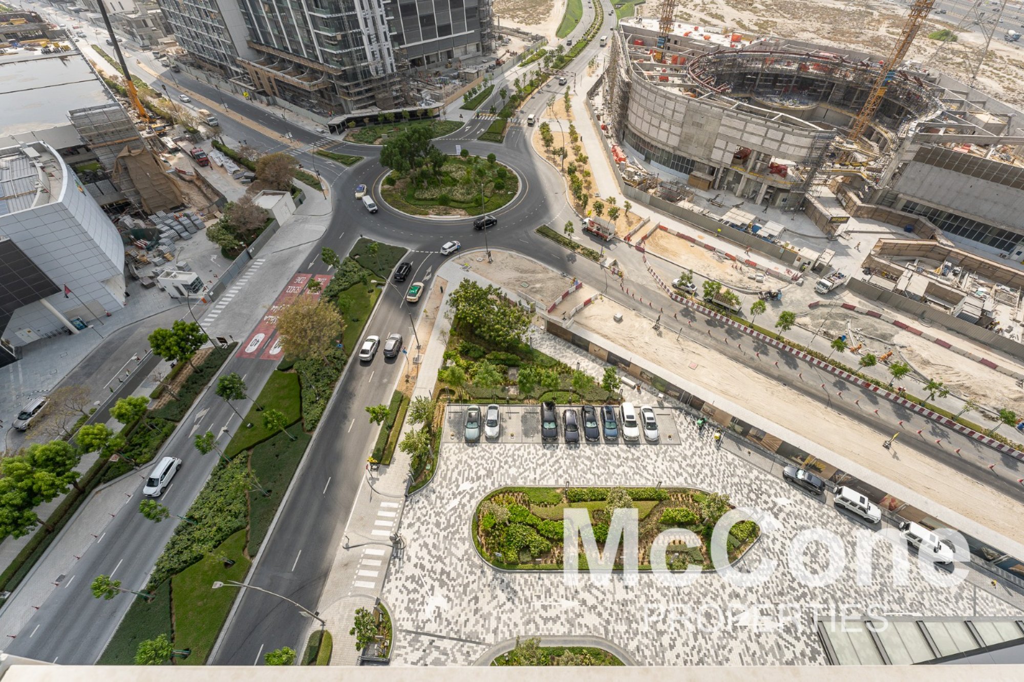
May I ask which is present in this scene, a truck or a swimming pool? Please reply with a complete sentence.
I can see a truck in this picture.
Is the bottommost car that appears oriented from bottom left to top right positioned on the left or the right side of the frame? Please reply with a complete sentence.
The bottommost car that appears oriented from bottom left to top right appears in the left half of the scene.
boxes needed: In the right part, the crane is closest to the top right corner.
[836,0,941,135]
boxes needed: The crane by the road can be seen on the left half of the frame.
[89,0,172,135]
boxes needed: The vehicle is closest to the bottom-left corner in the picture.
[141,457,185,500]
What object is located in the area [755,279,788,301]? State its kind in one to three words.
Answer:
work vehicle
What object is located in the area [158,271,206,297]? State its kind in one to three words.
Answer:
shed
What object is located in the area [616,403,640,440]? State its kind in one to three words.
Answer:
car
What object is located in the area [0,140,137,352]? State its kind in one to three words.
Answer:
building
